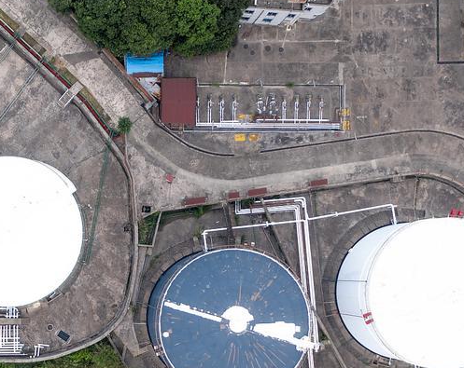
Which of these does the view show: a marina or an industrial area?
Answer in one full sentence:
It's an industrial area.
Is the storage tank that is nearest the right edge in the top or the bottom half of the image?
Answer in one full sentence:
The bottom half of the photo is where the storage tank that is nearest the right edge is.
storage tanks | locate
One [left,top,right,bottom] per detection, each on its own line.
[141,245,328,368]
[0,154,86,311]
[329,211,464,368]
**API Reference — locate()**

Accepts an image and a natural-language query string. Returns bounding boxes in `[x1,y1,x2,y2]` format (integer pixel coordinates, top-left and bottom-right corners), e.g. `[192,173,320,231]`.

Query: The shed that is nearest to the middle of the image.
[158,77,196,129]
